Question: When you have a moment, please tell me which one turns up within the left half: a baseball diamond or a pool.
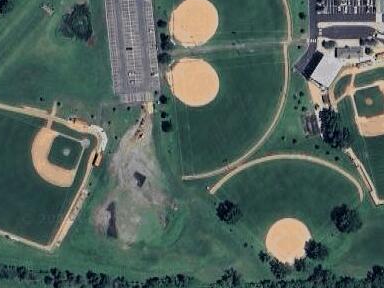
baseball diamond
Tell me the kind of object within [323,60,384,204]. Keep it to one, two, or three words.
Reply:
baseball field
